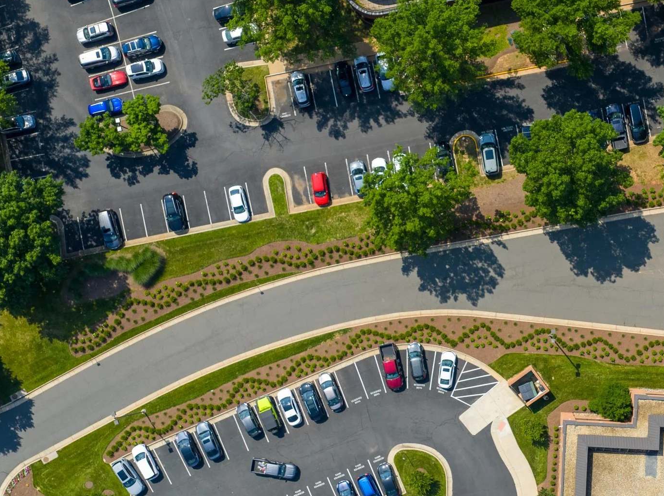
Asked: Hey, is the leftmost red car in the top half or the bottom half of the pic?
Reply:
top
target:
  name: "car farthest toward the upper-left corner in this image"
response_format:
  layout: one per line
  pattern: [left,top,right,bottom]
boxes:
[0,46,25,68]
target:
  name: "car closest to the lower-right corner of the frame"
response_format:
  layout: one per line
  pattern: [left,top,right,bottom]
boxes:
[439,351,456,389]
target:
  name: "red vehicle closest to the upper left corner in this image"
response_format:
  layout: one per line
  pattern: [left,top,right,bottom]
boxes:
[88,71,129,92]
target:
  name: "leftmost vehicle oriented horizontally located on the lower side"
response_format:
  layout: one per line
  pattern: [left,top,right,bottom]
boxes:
[249,457,298,482]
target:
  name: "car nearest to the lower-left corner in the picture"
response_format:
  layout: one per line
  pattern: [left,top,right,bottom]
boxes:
[111,457,145,496]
